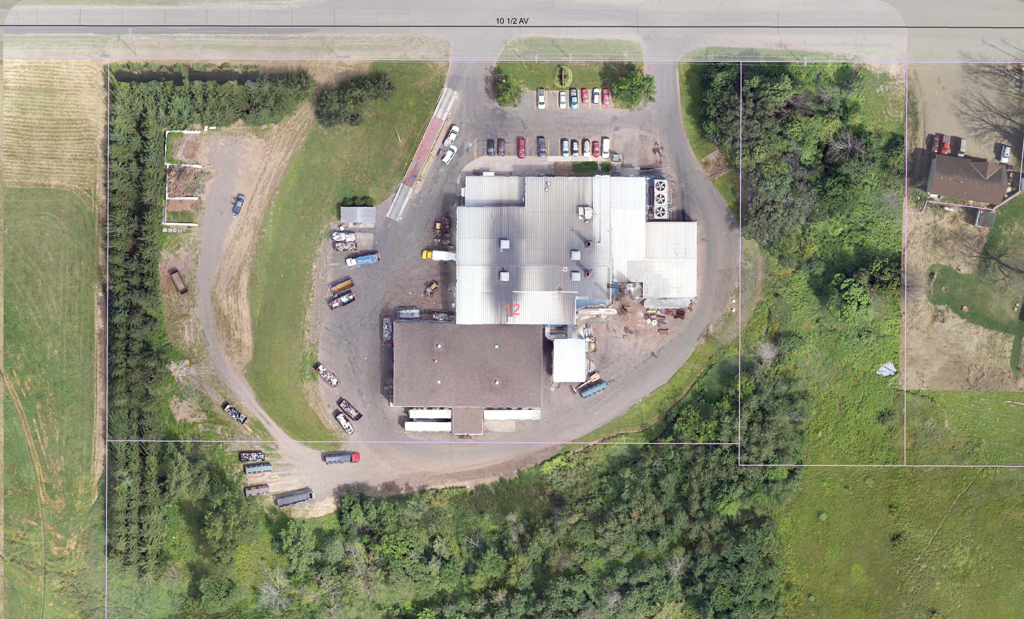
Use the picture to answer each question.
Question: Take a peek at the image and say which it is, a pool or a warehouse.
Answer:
warehouse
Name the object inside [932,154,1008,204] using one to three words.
house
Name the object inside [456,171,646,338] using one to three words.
building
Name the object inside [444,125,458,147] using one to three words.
vehicle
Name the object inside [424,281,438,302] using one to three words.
work vehicle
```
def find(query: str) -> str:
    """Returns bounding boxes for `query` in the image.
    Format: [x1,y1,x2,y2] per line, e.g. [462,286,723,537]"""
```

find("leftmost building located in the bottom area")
[393,324,543,439]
